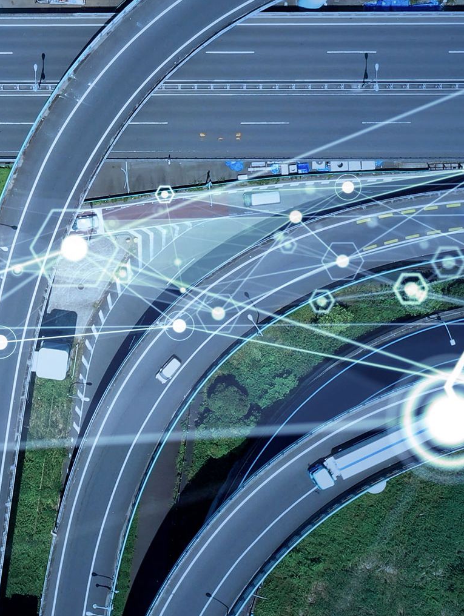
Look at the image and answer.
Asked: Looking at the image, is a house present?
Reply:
No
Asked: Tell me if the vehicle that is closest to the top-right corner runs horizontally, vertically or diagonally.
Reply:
horizontally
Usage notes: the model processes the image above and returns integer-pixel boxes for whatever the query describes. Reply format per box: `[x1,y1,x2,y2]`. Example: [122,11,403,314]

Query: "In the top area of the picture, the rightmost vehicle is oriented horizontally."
[240,190,281,210]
